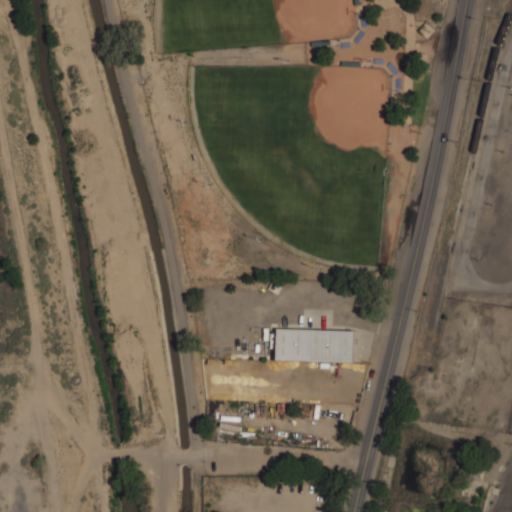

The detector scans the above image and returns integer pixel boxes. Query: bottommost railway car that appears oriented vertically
[470,118,483,154]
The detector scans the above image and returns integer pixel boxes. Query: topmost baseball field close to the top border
[157,0,357,53]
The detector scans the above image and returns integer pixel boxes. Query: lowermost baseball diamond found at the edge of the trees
[192,66,390,269]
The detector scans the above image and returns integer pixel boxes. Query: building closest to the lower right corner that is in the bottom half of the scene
[275,330,354,362]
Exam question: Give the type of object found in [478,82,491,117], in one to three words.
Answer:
rail car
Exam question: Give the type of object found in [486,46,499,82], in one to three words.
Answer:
rail car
